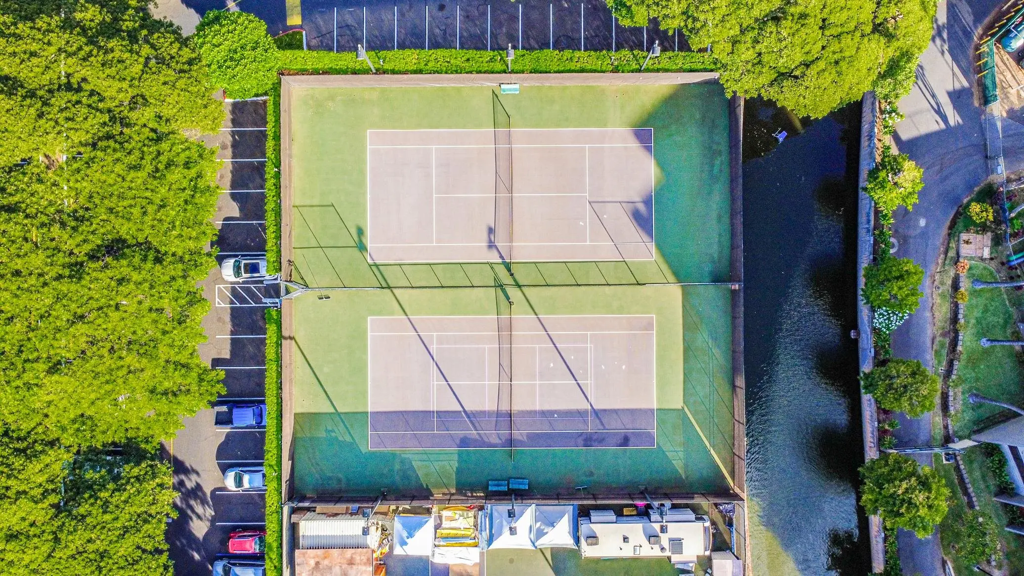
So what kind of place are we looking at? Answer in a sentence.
The picture captures a sports ground.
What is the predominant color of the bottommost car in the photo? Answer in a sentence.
In this view, the bottommost car is blue.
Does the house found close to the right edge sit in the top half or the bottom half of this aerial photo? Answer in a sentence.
The house found close to the right edge sits in the bottom half of the picture.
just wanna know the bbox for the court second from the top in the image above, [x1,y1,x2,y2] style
[293,285,732,494]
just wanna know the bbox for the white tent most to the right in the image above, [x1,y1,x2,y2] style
[534,503,578,548]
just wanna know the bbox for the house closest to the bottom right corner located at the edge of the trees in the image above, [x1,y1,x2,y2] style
[938,418,1024,506]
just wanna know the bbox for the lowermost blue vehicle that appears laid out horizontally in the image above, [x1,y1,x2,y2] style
[217,556,267,576]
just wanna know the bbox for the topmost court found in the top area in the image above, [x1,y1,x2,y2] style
[293,84,731,285]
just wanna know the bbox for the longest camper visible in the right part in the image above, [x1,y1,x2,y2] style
[577,507,707,563]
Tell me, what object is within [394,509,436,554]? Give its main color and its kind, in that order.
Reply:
white tent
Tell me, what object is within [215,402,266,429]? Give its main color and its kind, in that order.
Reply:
blue vehicle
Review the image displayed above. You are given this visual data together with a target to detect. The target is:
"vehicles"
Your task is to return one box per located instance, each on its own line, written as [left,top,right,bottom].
[229,528,266,556]
[222,255,281,283]
[217,556,267,576]
[577,507,707,563]
[215,402,266,429]
[227,465,269,492]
